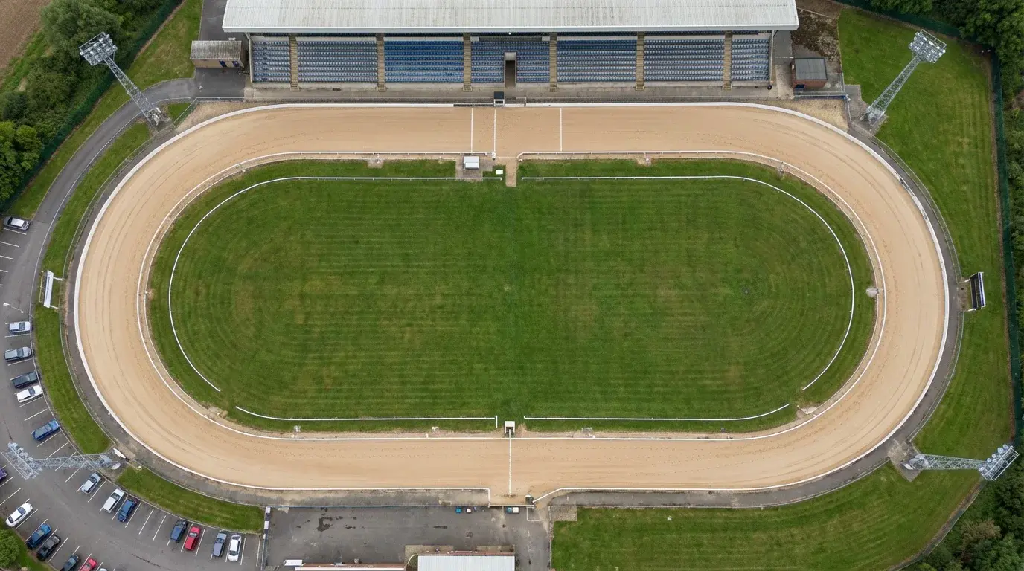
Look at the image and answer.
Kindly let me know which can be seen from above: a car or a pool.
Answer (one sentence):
There is a car in the scene.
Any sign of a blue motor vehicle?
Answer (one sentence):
Yes, a blue motor vehicle is visible in the scene.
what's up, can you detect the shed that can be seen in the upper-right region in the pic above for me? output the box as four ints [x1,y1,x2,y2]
[792,59,831,87]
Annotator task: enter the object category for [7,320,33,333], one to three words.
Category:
vehicle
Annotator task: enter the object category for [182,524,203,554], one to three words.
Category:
car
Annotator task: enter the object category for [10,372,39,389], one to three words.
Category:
car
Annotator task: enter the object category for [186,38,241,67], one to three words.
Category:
shed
